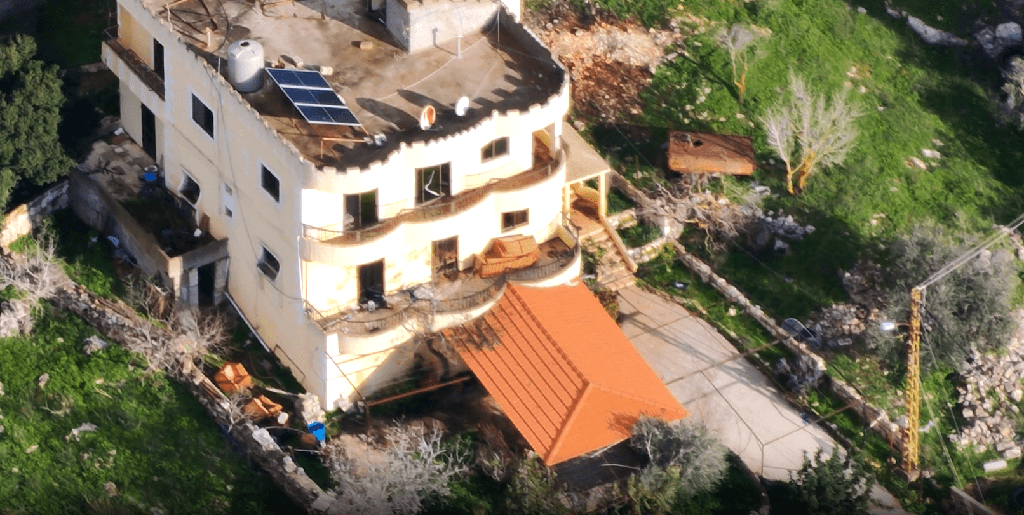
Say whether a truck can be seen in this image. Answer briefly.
No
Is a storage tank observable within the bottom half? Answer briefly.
No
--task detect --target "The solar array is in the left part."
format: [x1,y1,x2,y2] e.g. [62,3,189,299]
[264,67,369,154]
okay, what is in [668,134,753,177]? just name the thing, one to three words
storage tank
